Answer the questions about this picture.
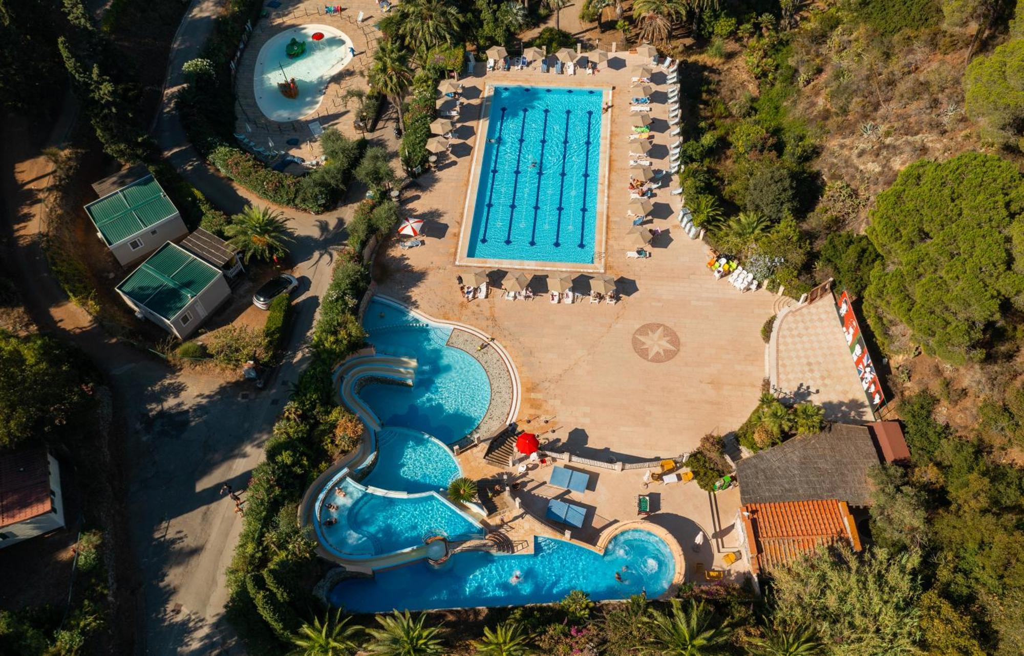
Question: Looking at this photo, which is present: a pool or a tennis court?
pool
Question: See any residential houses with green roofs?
Yes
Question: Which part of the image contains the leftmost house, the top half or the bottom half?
bottom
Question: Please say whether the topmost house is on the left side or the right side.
left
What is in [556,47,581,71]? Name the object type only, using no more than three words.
umbrella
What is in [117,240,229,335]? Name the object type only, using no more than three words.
house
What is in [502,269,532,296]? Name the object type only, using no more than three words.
umbrella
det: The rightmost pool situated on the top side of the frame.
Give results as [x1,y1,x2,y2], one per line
[455,82,610,272]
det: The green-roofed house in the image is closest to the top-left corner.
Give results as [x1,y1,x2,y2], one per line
[84,173,186,262]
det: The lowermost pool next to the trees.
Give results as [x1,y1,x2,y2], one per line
[332,520,686,627]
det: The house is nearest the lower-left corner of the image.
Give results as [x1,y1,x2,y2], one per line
[0,449,70,539]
